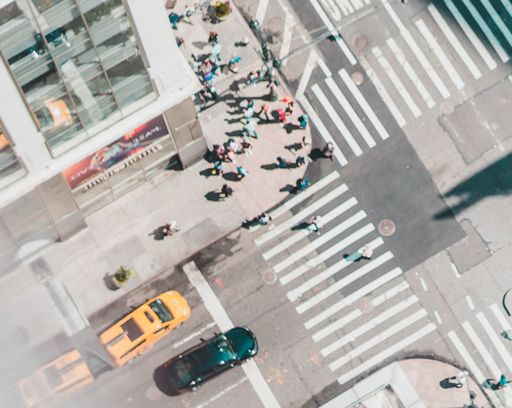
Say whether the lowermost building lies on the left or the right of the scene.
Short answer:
right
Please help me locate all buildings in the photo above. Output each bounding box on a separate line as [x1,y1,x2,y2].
[0,0,210,272]
[319,361,425,408]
